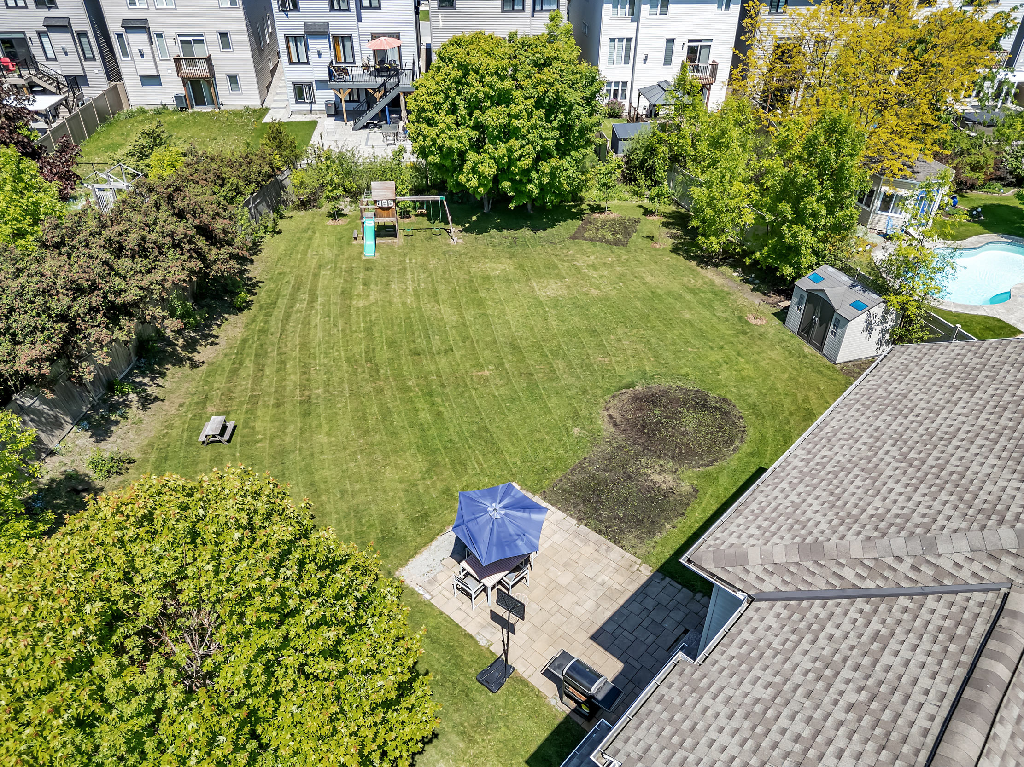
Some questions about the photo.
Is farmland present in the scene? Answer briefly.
No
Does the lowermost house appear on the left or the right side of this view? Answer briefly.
right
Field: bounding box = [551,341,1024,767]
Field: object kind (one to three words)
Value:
house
